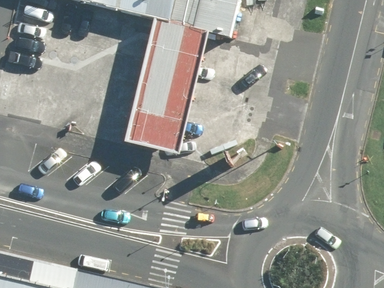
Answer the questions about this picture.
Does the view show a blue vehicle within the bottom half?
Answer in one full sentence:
Yes, a blue vehicle is visible within the bottom half.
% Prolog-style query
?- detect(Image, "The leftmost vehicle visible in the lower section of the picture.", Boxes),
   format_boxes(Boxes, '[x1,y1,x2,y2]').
[17,183,46,200]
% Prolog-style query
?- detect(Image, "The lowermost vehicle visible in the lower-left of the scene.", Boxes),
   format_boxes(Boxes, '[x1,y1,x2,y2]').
[78,252,112,271]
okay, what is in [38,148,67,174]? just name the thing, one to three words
car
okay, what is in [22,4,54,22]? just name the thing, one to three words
car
